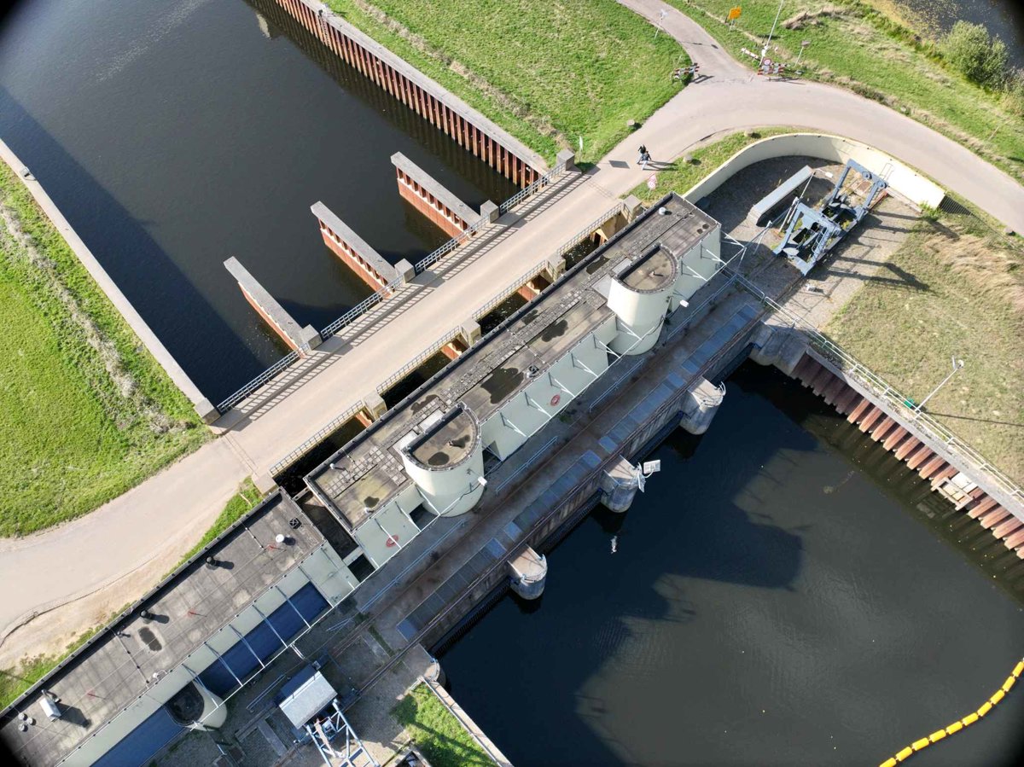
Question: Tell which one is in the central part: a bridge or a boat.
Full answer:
It is a bridge that can be seen in the central part.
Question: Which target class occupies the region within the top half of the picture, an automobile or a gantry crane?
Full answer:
You can see a gantry crane within the top half of the picture.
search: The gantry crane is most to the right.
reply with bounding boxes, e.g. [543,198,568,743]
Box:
[769,157,891,276]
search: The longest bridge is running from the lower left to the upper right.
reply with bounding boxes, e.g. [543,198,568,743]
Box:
[193,151,648,496]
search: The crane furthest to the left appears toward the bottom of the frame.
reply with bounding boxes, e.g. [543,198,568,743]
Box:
[270,649,383,767]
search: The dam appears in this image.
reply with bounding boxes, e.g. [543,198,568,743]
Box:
[205,194,883,767]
